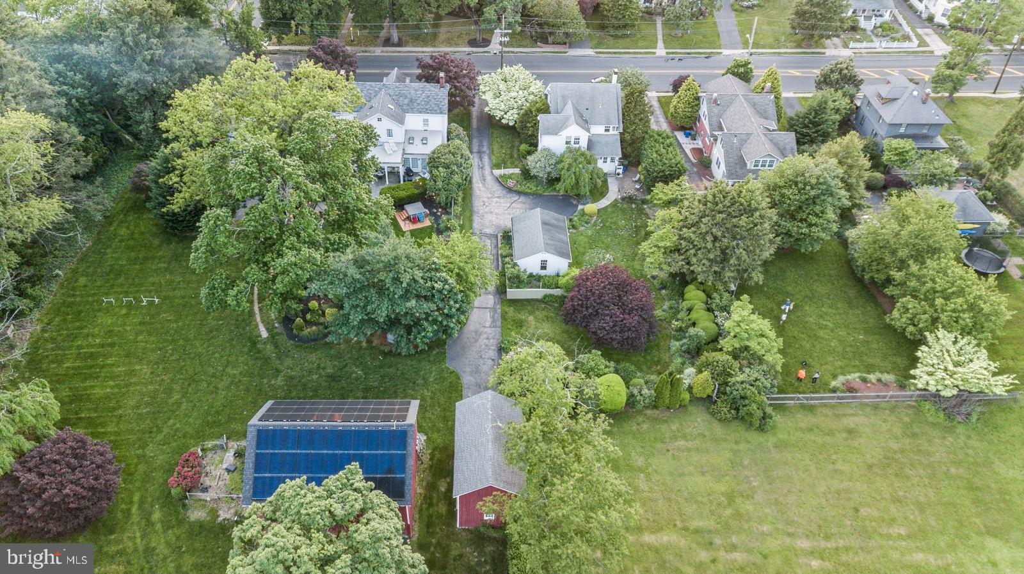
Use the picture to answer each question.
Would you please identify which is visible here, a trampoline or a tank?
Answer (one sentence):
I can see a trampoline in this picture.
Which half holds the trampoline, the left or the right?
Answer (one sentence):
The trampoline appears in the right half of the scene.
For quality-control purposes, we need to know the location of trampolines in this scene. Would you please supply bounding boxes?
[964,232,1012,276]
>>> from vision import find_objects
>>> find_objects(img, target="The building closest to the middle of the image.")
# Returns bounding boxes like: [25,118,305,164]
[511,205,571,281]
